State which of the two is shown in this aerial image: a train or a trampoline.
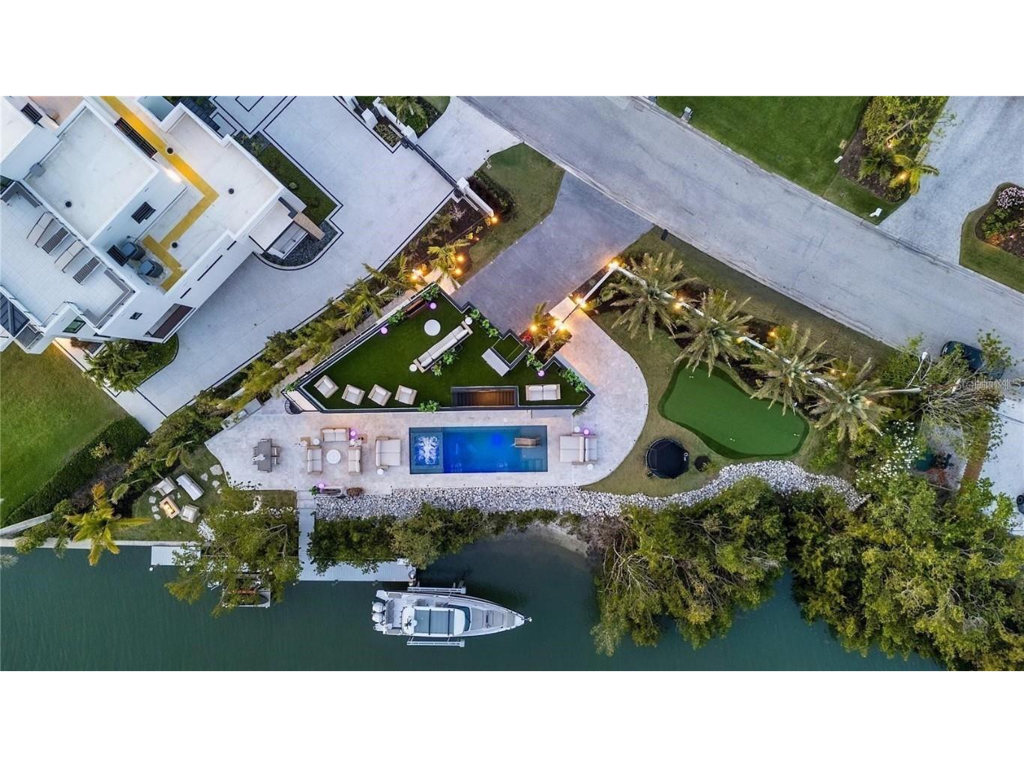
trampoline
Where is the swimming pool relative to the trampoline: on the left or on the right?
left of it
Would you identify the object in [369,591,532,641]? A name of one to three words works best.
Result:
boat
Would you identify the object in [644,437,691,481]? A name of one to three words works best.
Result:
trampoline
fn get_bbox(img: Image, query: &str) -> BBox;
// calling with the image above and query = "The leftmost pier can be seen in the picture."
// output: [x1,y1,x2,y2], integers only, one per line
[148,546,268,575]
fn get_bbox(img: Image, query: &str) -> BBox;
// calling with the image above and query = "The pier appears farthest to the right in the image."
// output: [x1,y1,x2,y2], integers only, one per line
[291,507,418,588]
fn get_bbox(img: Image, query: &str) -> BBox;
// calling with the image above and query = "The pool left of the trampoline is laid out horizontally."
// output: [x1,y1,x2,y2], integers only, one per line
[409,427,548,473]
